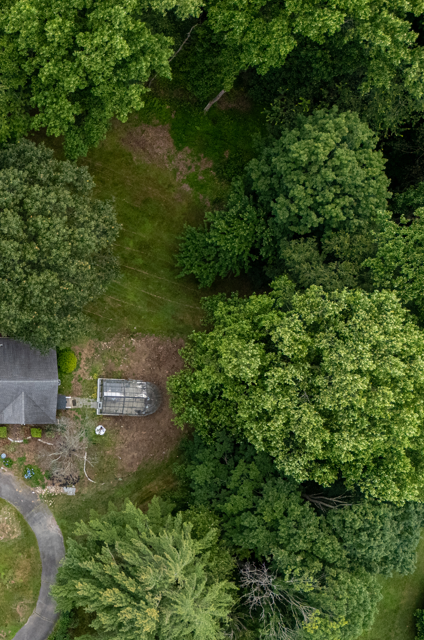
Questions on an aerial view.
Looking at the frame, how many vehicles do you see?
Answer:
0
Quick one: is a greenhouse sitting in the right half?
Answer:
No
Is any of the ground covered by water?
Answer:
No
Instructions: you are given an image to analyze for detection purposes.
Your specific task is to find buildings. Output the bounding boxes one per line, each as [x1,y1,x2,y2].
[95,378,160,418]
[0,336,67,426]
